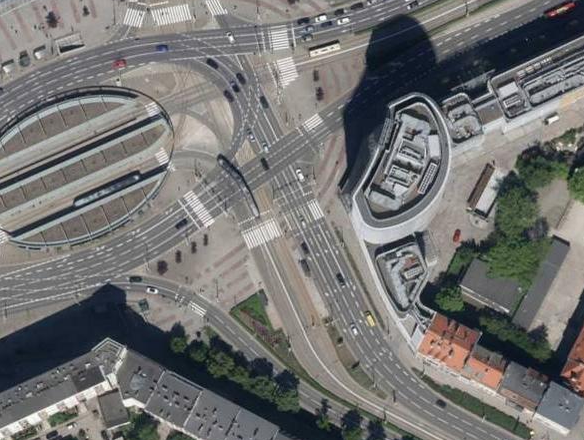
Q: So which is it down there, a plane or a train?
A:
train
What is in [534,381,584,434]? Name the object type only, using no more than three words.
house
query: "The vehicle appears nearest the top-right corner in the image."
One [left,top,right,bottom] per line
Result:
[545,1,577,19]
